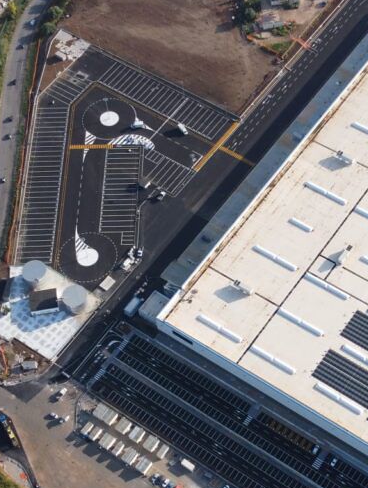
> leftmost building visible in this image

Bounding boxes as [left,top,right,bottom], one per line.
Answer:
[25,289,61,316]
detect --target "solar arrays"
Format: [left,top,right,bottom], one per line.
[312,351,368,410]
[341,310,368,349]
